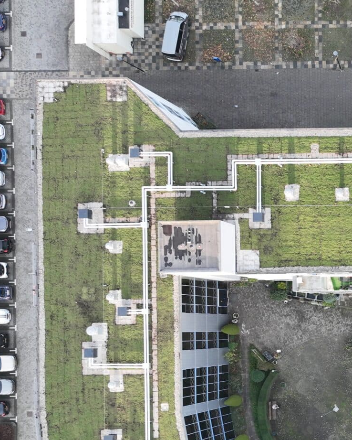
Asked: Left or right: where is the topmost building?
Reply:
left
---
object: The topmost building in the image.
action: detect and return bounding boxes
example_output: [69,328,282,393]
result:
[75,0,145,58]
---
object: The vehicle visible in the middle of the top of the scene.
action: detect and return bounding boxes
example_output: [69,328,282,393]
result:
[161,11,192,63]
